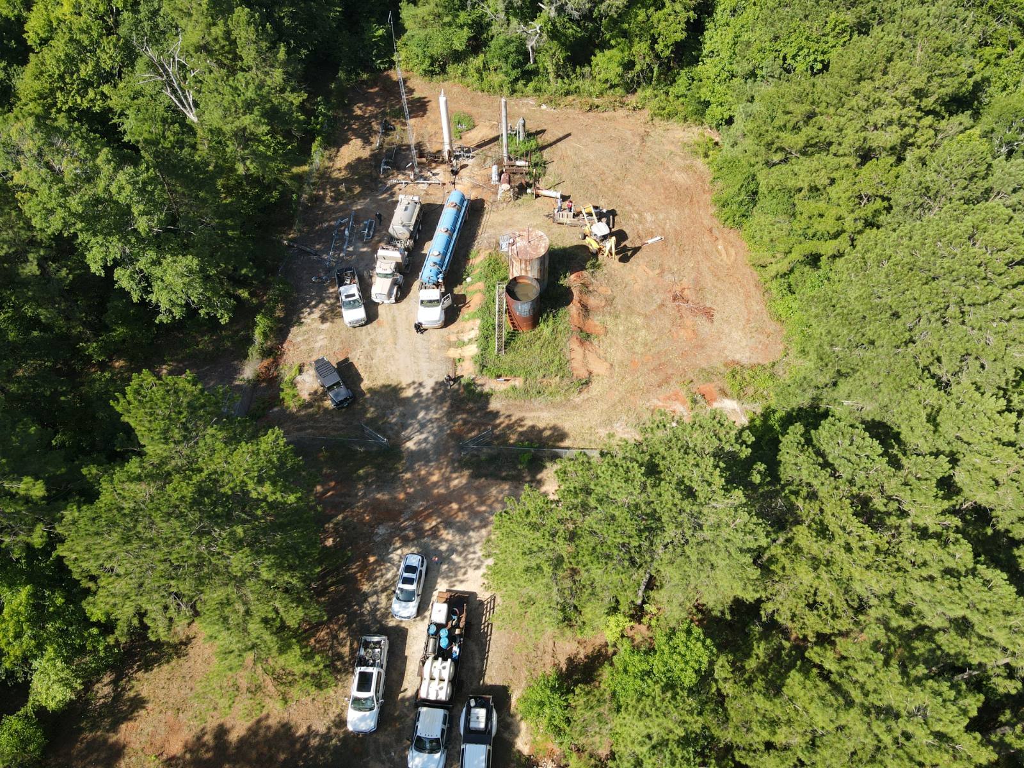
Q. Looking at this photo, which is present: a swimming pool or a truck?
truck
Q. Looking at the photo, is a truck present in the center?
Yes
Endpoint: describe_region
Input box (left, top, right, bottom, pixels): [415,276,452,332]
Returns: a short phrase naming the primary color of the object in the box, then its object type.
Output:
white truck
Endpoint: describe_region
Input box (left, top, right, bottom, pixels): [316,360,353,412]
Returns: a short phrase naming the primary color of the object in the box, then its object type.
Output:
gray car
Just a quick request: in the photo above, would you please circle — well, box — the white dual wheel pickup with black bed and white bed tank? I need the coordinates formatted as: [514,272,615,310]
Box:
[462,695,500,768]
